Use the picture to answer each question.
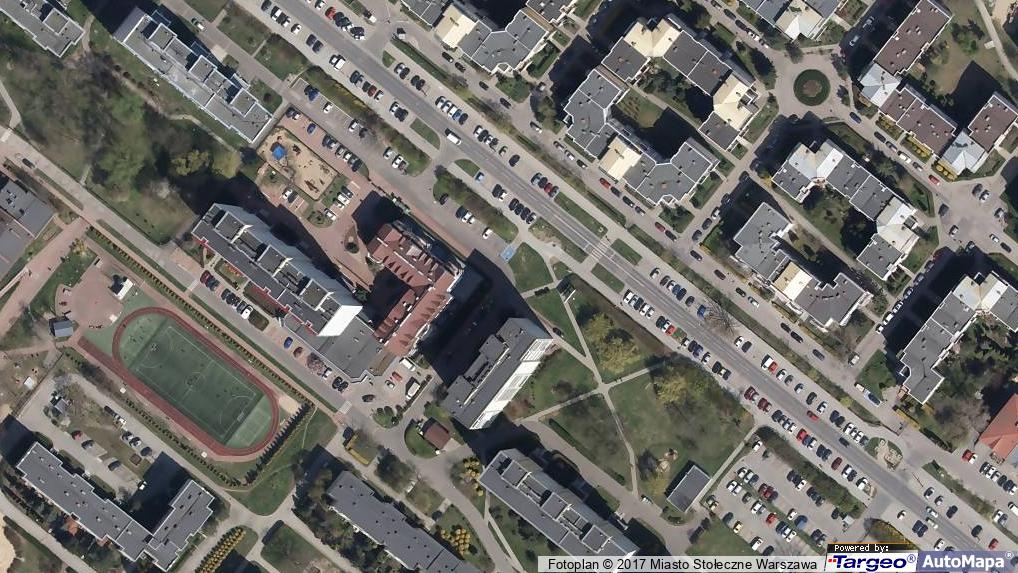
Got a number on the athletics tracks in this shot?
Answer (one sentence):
In total, 1 athletics track can be seen.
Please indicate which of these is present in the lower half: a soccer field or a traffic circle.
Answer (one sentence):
You can see a soccer field in the lower half.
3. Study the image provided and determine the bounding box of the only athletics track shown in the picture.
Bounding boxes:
[76,307,280,457]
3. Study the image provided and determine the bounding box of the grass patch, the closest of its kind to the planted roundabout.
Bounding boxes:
[793,69,829,105]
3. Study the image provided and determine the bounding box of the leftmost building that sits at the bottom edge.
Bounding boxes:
[16,440,223,571]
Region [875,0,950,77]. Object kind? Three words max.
building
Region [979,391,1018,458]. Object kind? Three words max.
house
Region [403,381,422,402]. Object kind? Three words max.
vehicle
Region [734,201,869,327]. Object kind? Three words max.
building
